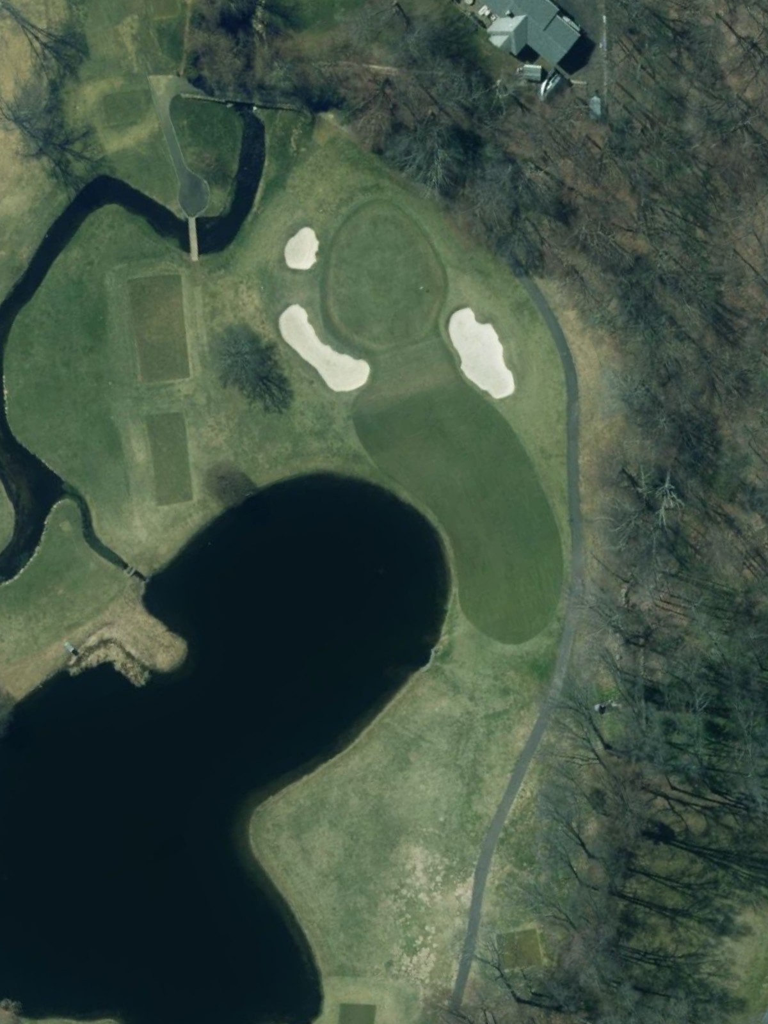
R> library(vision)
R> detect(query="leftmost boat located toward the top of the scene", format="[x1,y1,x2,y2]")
[543,67,562,98]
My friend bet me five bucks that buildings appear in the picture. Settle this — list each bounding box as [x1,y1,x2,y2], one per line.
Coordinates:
[524,63,541,80]
[483,0,580,63]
